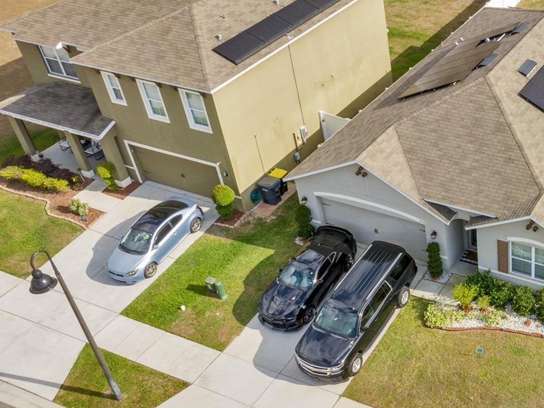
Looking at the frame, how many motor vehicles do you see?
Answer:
3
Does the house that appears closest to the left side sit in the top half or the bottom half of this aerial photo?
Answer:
top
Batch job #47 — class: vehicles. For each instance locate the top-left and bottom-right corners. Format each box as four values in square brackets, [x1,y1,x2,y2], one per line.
[101,193,203,280]
[254,221,358,329]
[290,243,418,387]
